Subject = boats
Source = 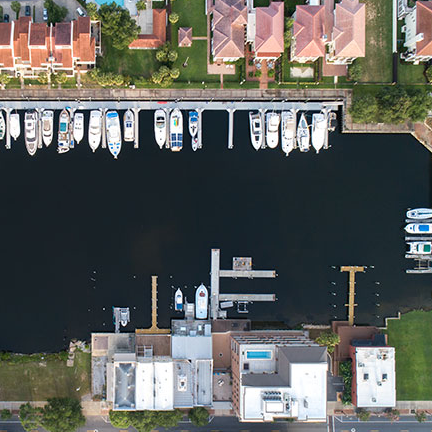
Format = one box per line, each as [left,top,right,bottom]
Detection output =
[405,241,432,254]
[187,111,199,138]
[169,108,183,152]
[0,110,6,141]
[57,108,70,148]
[280,112,296,156]
[404,222,432,235]
[193,282,209,319]
[191,136,198,151]
[174,287,184,311]
[310,113,329,154]
[24,111,38,156]
[41,111,54,148]
[153,110,167,150]
[104,111,122,159]
[72,113,85,145]
[405,208,432,219]
[87,111,102,152]
[247,112,262,151]
[55,148,70,154]
[265,112,280,149]
[9,114,21,139]
[123,109,135,143]
[296,112,315,153]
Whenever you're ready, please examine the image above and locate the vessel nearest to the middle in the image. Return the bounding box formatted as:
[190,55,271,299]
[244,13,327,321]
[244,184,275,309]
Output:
[232,257,252,270]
